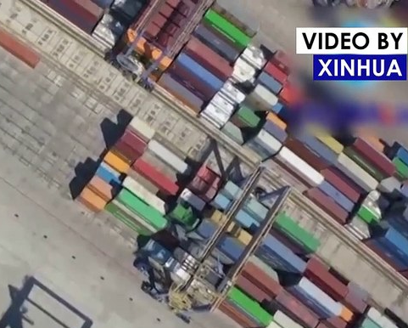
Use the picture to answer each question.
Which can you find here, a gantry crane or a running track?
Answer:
gantry crane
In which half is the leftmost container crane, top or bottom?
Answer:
top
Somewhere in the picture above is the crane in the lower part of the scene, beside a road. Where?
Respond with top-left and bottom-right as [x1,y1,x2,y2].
[146,166,299,308]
